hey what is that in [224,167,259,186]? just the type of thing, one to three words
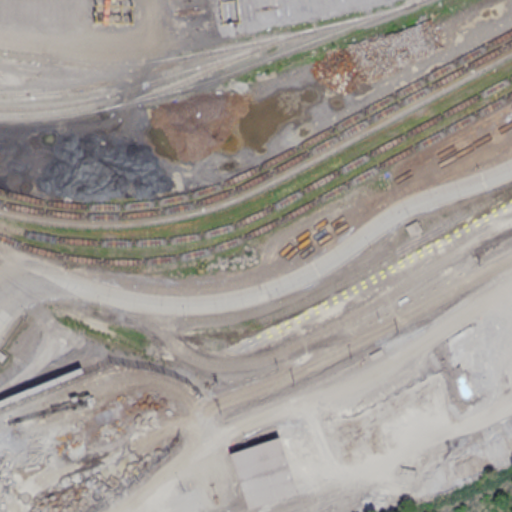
rail car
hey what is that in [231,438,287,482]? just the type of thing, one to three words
building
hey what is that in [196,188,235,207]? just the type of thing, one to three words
rail car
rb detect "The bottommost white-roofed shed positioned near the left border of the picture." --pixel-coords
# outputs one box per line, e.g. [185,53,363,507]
[0,369,84,408]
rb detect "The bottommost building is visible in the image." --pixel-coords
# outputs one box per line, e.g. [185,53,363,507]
[240,468,296,508]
